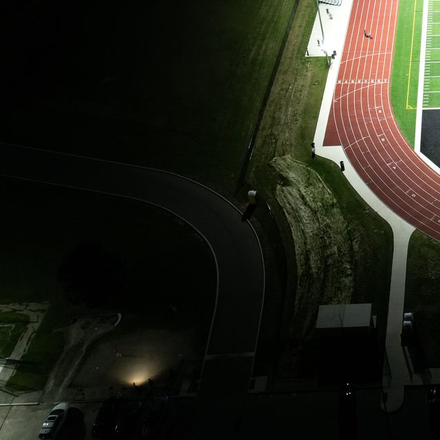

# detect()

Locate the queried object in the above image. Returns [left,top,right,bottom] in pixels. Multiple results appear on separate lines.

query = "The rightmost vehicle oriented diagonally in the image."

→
[130,391,172,436]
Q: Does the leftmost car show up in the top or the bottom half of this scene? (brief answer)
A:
bottom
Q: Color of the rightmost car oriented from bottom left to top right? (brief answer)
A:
black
